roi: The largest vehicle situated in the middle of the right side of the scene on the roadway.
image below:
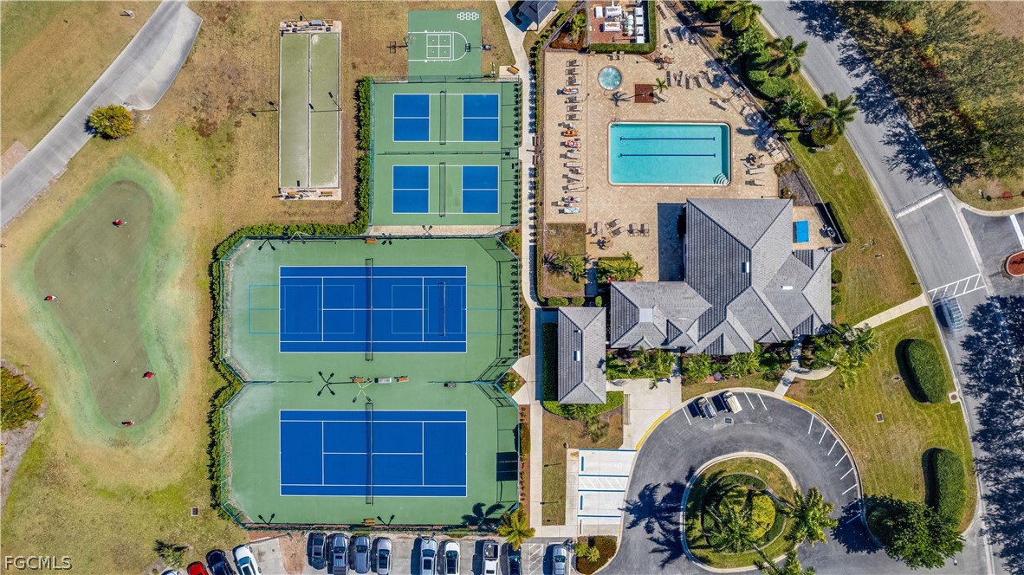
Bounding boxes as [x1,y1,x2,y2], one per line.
[937,295,965,334]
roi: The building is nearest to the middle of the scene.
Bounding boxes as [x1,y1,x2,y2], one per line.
[558,307,607,405]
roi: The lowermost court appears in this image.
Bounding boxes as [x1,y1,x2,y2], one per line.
[230,383,518,524]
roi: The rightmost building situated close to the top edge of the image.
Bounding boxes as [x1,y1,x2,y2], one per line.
[505,0,571,37]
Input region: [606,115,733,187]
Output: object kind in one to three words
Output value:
swimming pool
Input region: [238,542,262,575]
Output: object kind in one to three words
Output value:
car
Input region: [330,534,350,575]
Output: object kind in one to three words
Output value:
vehicle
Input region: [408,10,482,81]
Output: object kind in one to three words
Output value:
basketball court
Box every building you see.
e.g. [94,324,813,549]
[558,307,607,405]
[505,0,571,37]
[610,197,833,356]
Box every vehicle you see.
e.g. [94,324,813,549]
[551,546,569,575]
[211,548,236,575]
[443,542,462,575]
[238,542,262,575]
[375,537,393,575]
[420,539,439,575]
[506,544,524,575]
[311,532,330,570]
[937,295,965,334]
[190,560,209,575]
[330,534,350,575]
[723,392,743,415]
[353,535,372,574]
[697,398,717,421]
[484,543,500,575]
